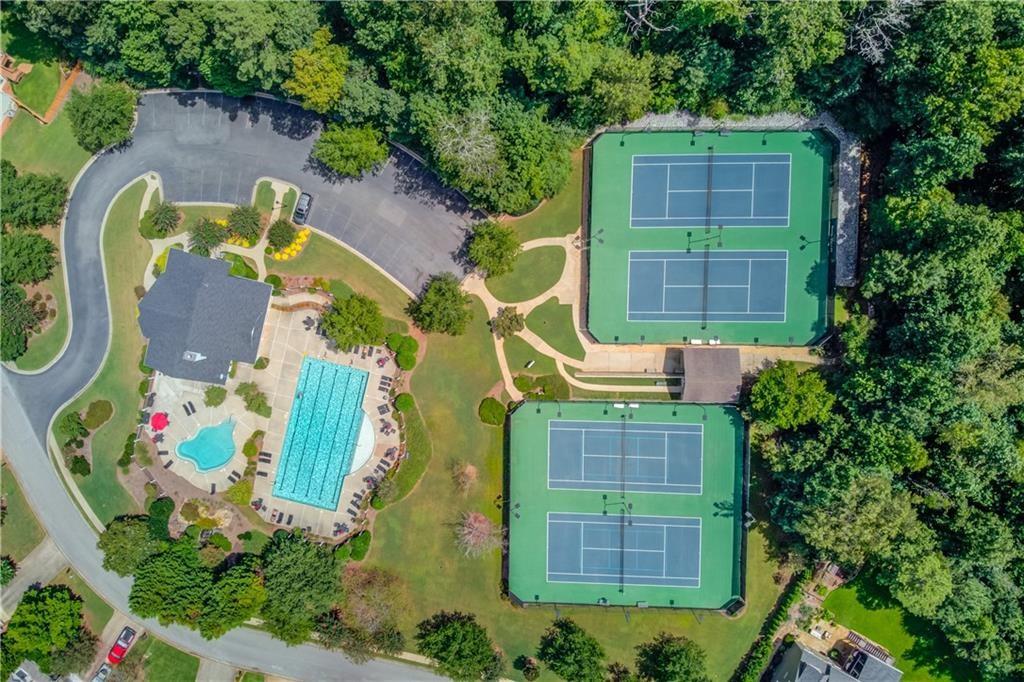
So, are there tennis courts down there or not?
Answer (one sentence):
Yes, this view includes a tennis court.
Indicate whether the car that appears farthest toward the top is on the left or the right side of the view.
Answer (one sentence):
You can find the car that appears farthest toward the top on the left side of the picture.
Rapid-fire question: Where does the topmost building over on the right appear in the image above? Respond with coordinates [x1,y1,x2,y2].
[676,348,742,403]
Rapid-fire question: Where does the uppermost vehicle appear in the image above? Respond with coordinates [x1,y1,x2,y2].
[291,191,311,224]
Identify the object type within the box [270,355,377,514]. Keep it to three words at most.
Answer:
swimming pool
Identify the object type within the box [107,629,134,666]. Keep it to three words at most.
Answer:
truck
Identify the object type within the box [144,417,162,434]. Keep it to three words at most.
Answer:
umbrella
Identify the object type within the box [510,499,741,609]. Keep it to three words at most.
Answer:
tennis court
